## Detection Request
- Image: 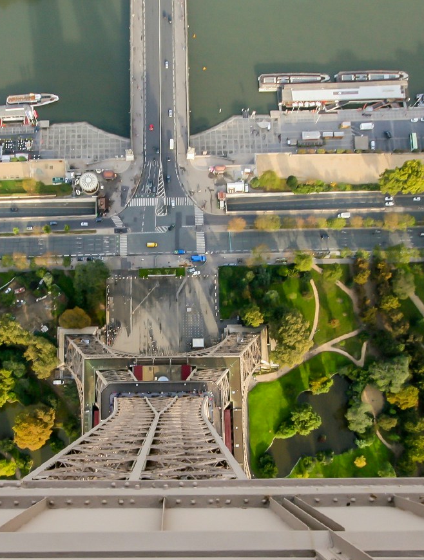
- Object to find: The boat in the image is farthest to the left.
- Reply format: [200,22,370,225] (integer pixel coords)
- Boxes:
[6,94,59,107]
